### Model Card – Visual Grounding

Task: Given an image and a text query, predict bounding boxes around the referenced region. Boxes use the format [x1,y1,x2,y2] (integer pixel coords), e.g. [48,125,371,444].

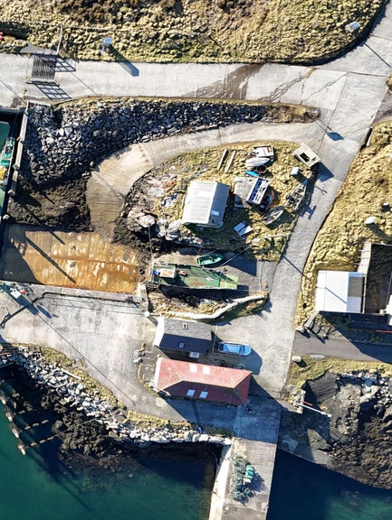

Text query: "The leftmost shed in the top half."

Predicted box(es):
[178,181,229,227]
